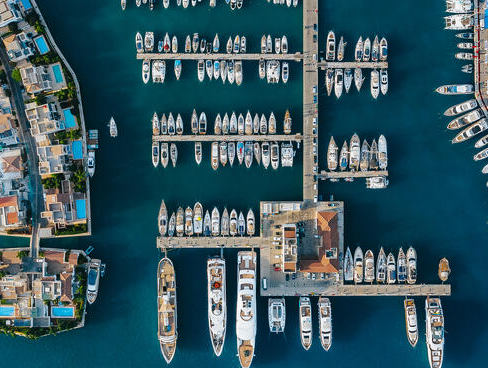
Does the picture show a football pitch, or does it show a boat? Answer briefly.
boat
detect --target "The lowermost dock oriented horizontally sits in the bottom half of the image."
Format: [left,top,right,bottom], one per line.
[344,284,450,296]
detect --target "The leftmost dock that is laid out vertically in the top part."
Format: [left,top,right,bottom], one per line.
[302,0,318,202]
